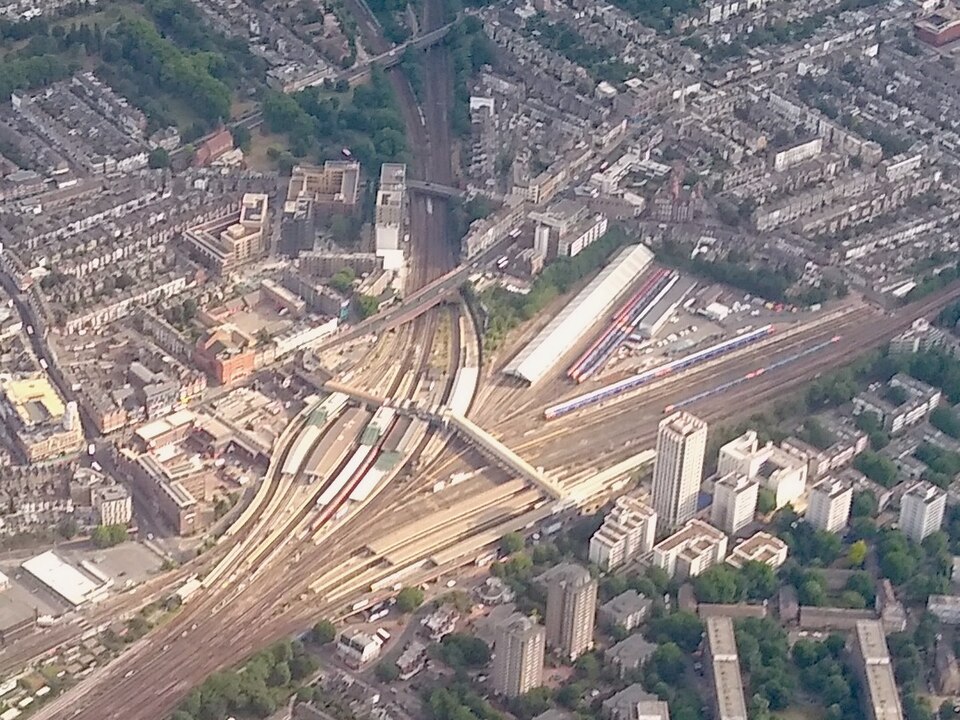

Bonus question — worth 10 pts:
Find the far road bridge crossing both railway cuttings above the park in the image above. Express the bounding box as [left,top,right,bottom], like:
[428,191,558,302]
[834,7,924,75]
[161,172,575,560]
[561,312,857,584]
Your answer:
[302,7,486,90]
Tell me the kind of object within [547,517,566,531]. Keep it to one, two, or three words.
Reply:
vehicle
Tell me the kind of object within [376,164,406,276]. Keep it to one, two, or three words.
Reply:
building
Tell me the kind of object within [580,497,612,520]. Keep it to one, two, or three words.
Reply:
shed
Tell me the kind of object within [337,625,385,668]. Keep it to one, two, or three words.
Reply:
house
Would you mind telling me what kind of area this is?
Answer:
residential area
